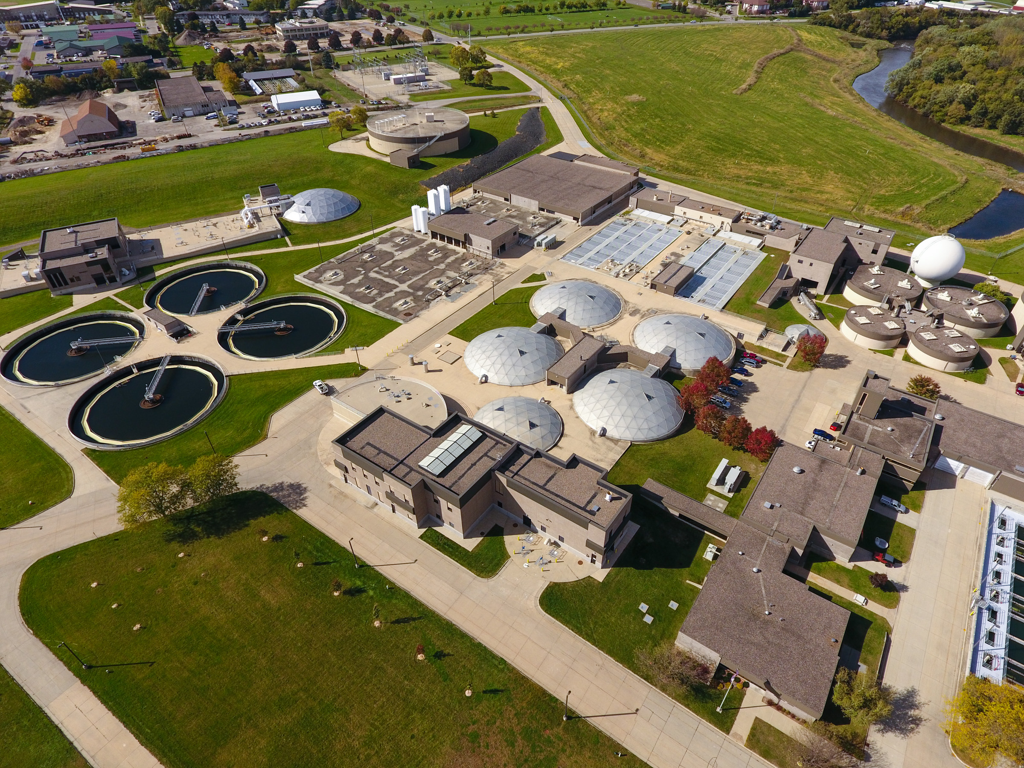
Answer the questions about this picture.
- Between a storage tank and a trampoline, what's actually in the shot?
storage tank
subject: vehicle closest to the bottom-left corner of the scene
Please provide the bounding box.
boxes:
[313,381,328,394]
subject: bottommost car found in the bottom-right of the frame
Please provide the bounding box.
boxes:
[871,552,898,569]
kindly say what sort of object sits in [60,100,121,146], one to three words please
barn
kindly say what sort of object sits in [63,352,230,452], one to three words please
storage tank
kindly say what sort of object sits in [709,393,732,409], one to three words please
vehicle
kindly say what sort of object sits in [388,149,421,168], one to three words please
building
